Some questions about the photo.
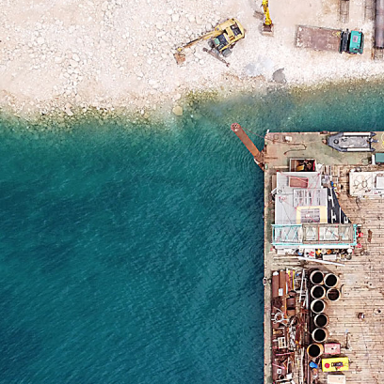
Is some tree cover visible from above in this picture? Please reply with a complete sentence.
No, the picture contains no tree cover.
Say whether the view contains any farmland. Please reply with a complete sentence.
No, farmland can't be seen anywhere here.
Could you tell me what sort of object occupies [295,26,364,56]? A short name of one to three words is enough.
truck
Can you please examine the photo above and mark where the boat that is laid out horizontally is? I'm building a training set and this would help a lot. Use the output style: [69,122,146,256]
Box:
[326,133,372,153]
